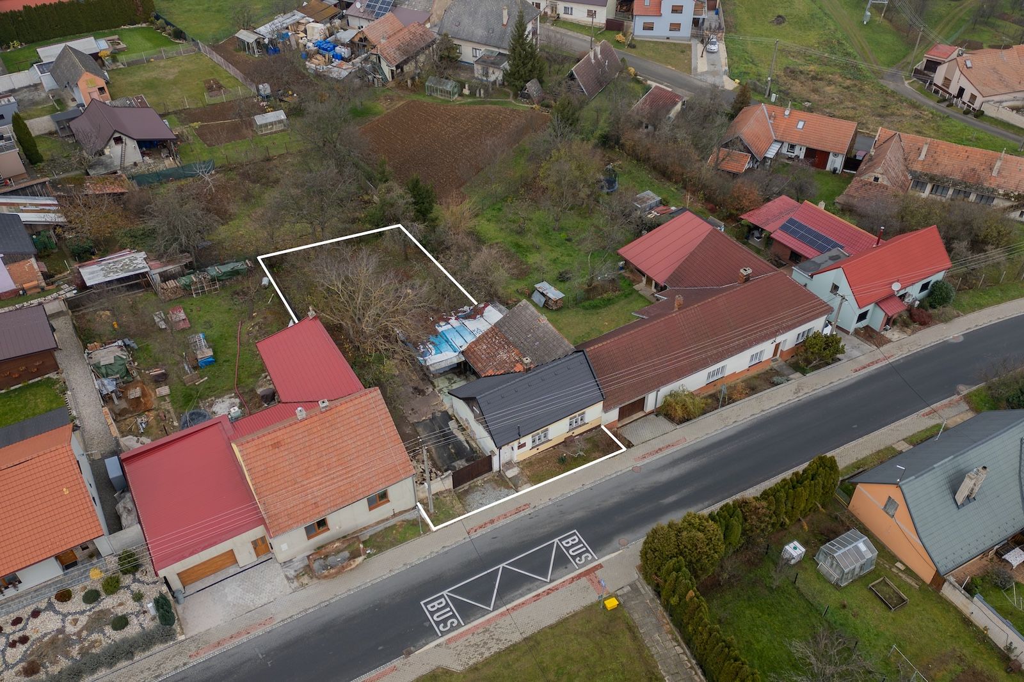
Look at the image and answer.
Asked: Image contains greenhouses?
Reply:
Yes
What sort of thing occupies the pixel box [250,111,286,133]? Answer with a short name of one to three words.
greenhouse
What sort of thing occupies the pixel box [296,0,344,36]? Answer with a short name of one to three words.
shed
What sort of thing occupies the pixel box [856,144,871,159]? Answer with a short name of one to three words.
car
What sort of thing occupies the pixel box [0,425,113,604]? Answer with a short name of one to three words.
house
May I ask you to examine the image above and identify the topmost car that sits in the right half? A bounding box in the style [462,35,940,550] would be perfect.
[707,36,720,49]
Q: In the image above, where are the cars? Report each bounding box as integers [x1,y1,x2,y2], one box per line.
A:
[856,144,871,159]
[707,36,720,49]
